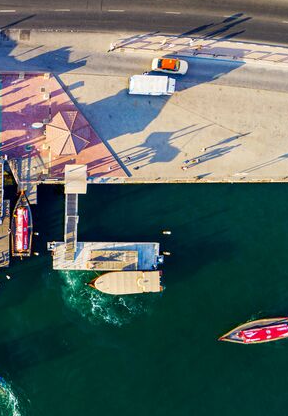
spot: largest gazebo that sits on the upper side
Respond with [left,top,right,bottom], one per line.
[44,110,91,156]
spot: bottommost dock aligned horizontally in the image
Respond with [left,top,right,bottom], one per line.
[52,242,159,270]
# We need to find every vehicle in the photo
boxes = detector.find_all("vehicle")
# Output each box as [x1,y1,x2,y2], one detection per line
[151,57,187,73]
[125,75,173,97]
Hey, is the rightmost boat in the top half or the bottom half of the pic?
bottom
